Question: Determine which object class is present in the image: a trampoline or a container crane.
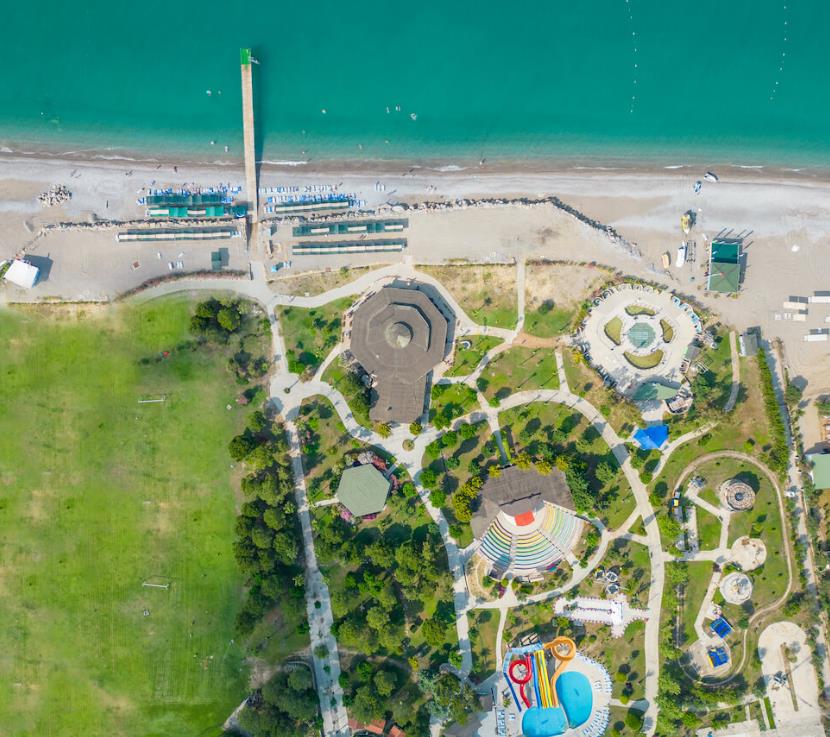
trampoline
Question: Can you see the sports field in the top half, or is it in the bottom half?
bottom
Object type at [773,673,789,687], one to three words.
vehicle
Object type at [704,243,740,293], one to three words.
building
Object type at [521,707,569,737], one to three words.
swimming pool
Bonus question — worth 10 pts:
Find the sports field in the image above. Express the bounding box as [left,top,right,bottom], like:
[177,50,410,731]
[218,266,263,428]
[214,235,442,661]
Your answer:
[0,290,246,737]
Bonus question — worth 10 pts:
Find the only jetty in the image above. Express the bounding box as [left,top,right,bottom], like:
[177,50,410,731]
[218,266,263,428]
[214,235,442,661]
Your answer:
[241,48,258,222]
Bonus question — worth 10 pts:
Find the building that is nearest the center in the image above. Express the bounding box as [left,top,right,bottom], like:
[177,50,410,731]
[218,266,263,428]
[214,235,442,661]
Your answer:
[351,288,446,423]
